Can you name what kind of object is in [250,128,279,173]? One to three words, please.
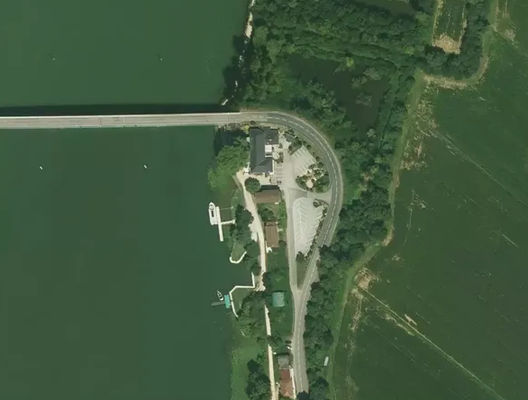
building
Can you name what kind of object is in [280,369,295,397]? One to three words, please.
house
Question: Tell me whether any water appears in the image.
Yes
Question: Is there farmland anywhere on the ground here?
Yes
